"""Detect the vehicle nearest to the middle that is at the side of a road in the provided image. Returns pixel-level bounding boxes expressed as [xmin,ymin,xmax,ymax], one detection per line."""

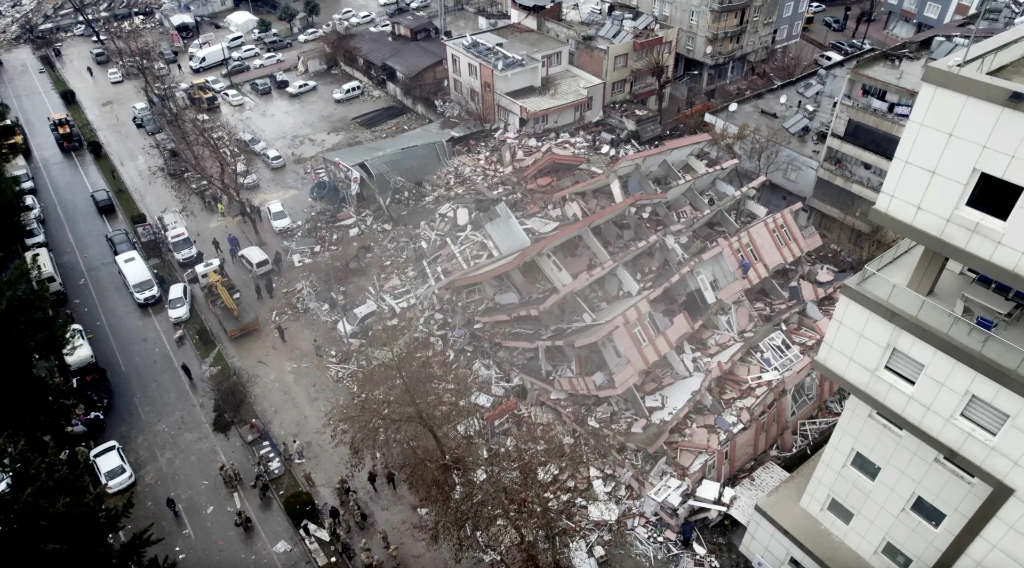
[333,303,382,346]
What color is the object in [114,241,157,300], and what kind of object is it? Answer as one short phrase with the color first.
white vehicle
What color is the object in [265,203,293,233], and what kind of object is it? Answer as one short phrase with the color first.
white car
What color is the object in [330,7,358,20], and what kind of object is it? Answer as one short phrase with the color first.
white vehicle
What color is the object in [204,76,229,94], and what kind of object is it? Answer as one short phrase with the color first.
white car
